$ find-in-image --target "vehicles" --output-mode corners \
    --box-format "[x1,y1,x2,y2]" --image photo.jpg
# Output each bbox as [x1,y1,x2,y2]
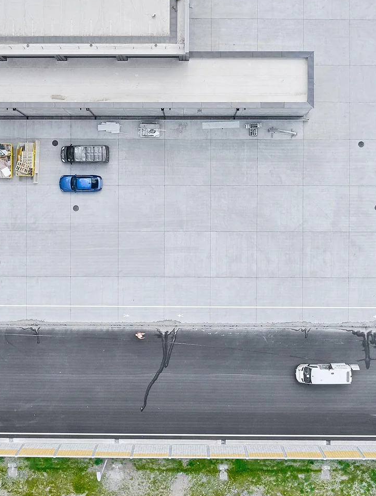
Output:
[295,363,360,386]
[60,173,103,194]
[61,143,110,165]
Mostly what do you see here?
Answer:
paved ground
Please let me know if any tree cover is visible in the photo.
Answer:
No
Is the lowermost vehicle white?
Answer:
Yes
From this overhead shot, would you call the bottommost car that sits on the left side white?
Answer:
No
